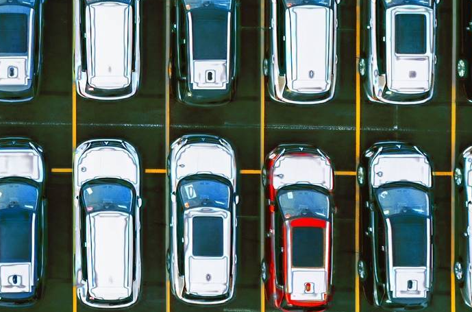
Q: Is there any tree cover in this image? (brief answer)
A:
No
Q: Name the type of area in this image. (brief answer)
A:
parking lot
